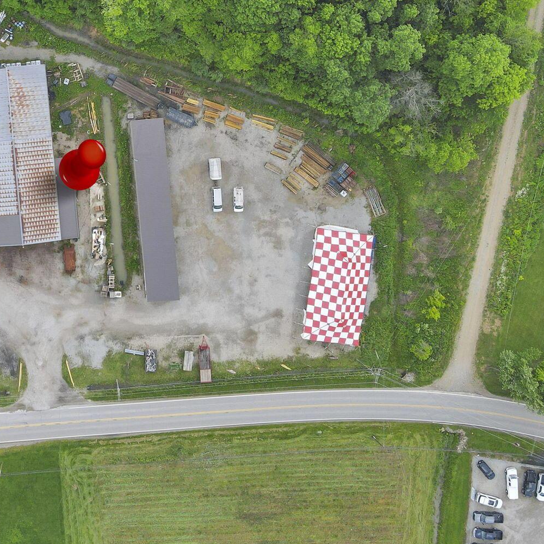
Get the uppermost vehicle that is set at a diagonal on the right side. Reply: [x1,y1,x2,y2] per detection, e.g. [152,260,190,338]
[474,457,496,481]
